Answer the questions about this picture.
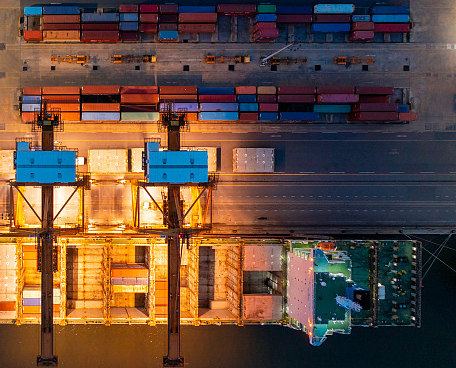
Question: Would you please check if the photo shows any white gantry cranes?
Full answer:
No, I can see no white gantry crane in this picture.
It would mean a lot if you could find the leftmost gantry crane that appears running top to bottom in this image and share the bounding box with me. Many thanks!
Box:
[5,98,95,367]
